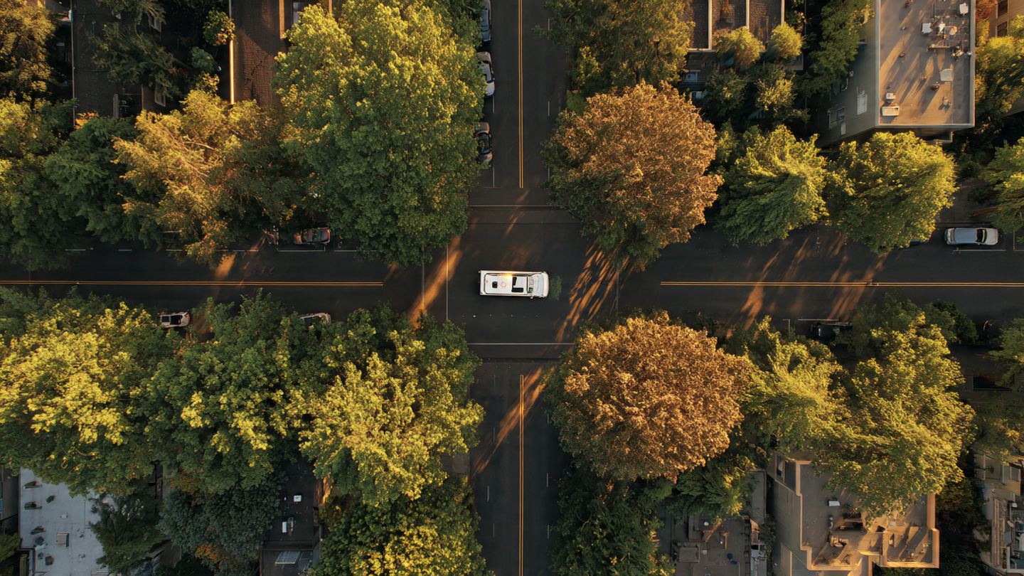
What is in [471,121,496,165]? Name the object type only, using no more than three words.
car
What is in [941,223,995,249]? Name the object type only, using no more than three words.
car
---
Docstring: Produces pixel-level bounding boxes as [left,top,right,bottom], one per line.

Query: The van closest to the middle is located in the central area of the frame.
[479,268,548,299]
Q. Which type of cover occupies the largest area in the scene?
trees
